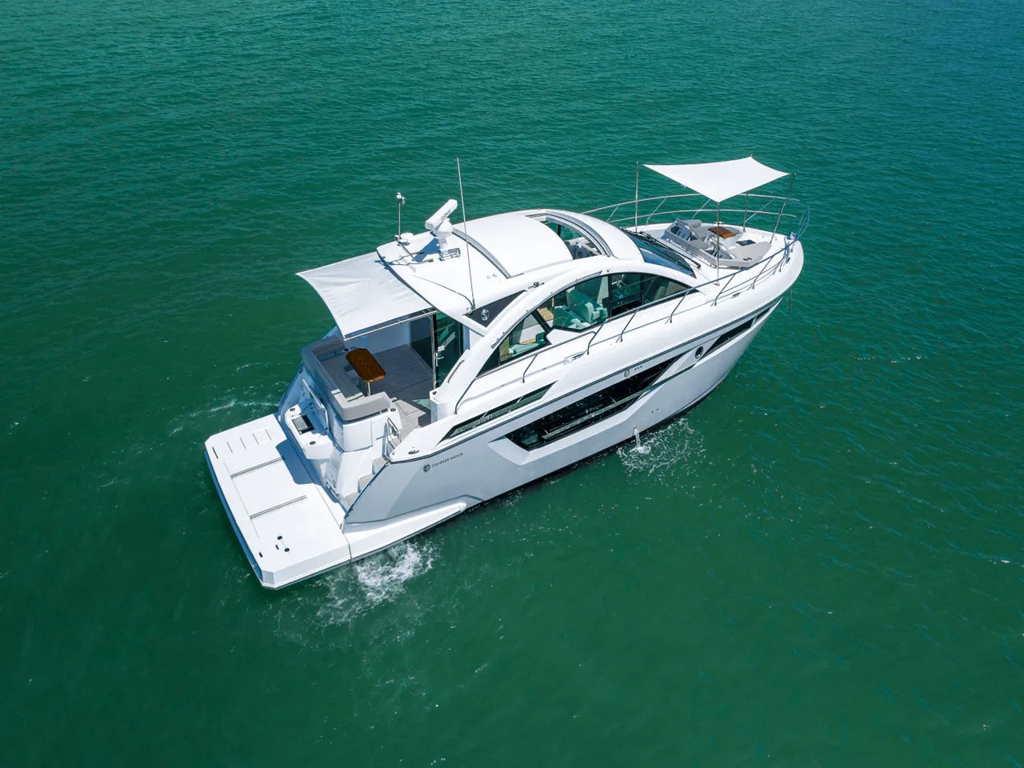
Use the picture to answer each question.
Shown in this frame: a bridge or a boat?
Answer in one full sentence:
It is a boat that can be seen here.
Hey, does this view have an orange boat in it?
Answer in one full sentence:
No, the frame has no orange boat in it.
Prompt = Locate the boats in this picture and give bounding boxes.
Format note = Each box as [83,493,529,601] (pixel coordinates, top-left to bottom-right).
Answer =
[205,162,807,586]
